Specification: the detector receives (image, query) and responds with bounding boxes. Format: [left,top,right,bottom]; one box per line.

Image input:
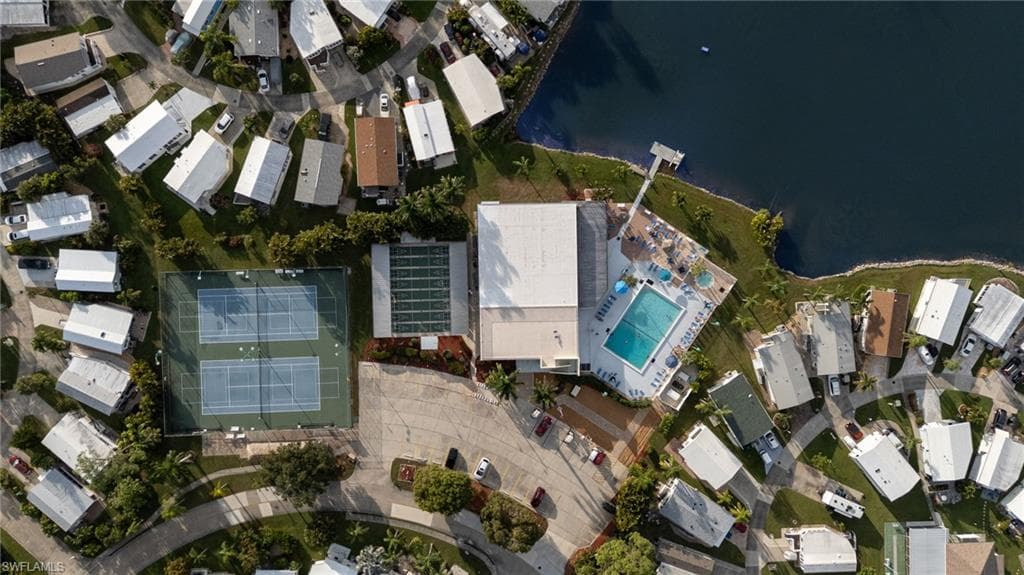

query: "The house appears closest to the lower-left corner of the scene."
[26,467,101,532]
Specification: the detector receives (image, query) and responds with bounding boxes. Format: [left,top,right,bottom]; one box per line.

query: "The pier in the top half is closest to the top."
[648,143,676,179]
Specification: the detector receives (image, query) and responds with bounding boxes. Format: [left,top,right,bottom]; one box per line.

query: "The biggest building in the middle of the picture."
[478,201,608,379]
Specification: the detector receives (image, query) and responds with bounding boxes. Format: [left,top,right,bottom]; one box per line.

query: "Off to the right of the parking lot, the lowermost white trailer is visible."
[819,491,873,523]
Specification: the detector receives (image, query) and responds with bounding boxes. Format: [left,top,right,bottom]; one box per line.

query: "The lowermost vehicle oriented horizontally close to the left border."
[19,258,50,270]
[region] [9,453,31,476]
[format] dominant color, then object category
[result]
red car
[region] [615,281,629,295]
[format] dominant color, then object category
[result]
blue umbrella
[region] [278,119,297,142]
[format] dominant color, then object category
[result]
gray car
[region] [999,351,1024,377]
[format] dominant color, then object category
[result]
black vehicle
